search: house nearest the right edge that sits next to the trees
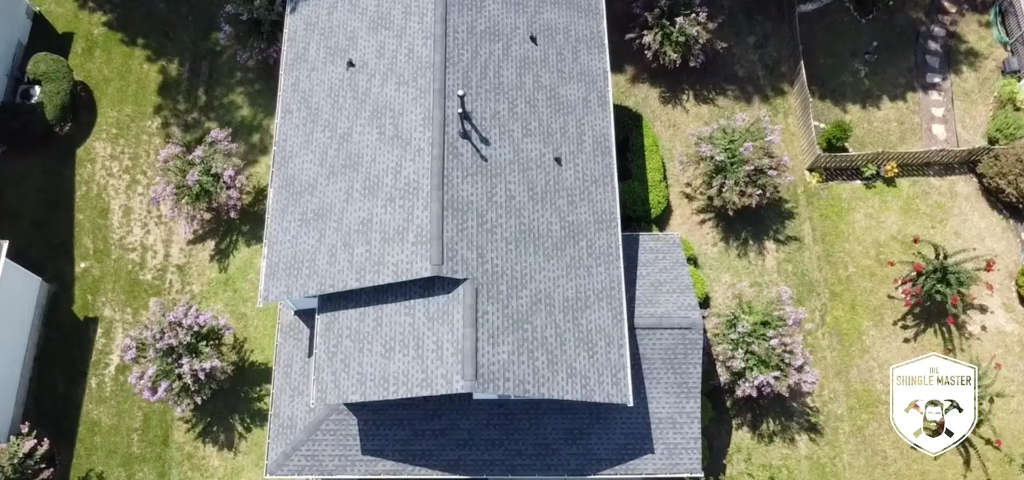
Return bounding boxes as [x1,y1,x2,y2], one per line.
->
[255,0,704,480]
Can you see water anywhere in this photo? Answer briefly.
No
